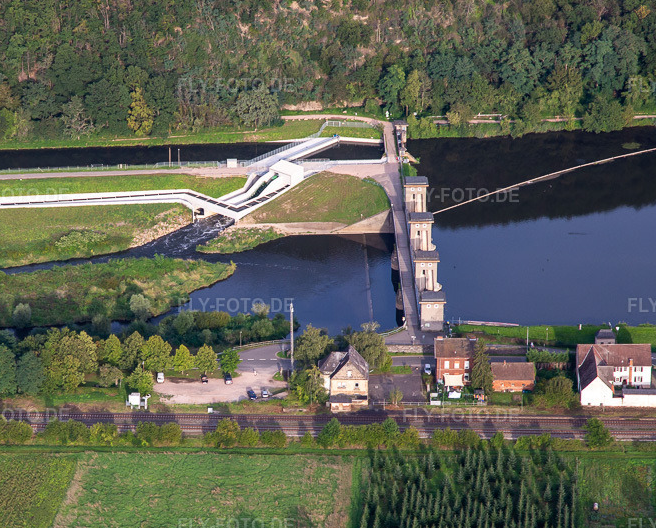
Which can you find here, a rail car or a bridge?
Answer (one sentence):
This aerial view contains a bridge.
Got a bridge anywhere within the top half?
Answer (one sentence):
Yes, within the top half there is a bridge.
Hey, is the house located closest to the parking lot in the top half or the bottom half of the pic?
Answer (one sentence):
Seen from above, the house located closest to the parking lot lies in the bottom half of the view.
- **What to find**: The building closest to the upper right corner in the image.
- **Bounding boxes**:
[395,123,411,156]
